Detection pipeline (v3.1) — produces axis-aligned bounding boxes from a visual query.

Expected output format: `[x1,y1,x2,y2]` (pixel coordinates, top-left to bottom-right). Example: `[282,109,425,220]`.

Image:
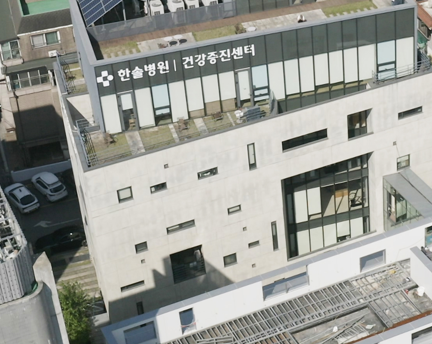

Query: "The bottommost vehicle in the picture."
[28,226,91,262]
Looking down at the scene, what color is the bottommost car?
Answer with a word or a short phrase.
black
